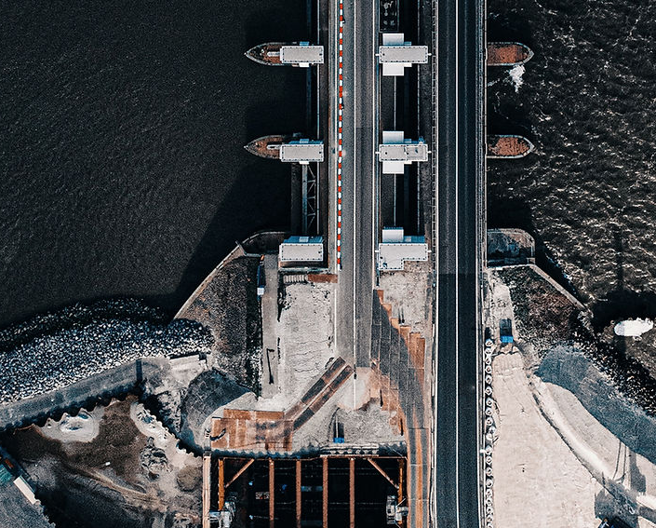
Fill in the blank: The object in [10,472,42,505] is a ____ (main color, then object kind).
white shipping container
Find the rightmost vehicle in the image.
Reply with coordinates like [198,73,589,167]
[500,319,512,344]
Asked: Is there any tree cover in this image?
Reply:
No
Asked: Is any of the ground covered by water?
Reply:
Yes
